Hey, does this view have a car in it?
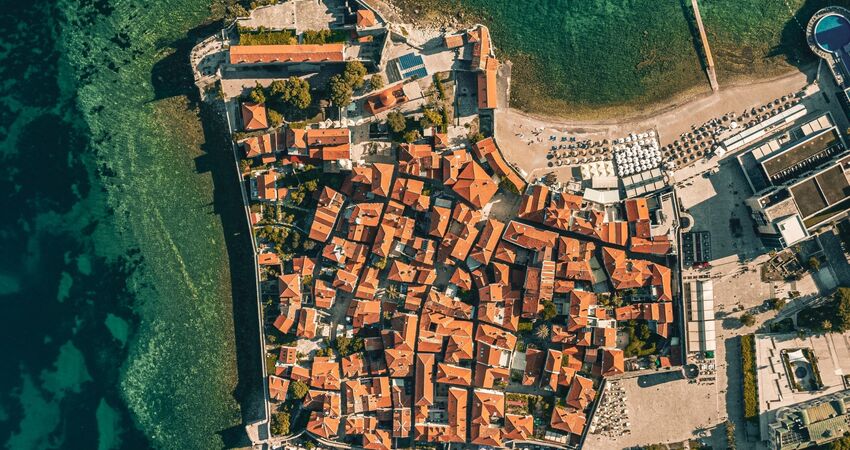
No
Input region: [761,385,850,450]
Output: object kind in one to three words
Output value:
building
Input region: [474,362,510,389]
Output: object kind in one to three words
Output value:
house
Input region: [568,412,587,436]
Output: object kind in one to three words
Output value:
house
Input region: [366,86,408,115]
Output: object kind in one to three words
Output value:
building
